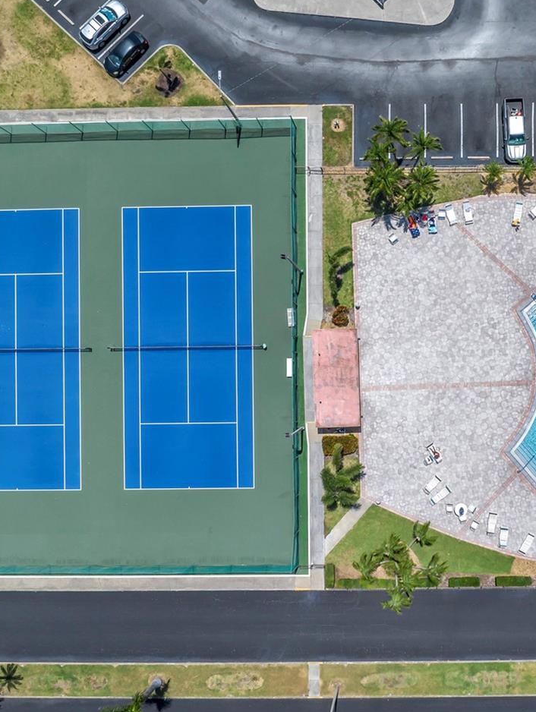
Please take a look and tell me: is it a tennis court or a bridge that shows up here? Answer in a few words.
tennis court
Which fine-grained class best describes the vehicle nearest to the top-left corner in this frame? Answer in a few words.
car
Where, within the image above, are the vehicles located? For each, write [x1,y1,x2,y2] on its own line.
[500,95,530,164]
[101,28,153,80]
[76,1,129,51]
